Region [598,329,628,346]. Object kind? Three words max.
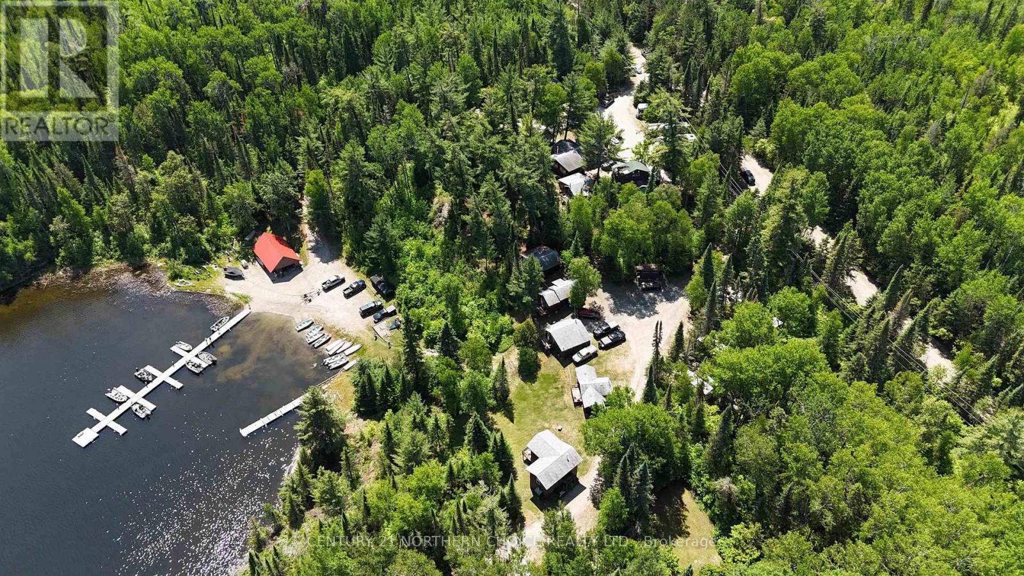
vehicle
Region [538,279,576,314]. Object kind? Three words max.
building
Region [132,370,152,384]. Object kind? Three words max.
boat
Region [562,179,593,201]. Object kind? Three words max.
building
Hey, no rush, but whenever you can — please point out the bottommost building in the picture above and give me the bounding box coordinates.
[522,432,580,501]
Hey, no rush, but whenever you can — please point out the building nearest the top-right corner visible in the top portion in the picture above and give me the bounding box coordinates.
[617,161,651,186]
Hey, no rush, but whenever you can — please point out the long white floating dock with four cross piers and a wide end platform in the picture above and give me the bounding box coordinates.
[67,305,251,452]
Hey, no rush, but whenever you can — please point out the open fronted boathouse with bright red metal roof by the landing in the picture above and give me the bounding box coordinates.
[252,233,301,275]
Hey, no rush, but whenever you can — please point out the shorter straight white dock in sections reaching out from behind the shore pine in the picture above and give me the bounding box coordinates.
[238,392,310,437]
